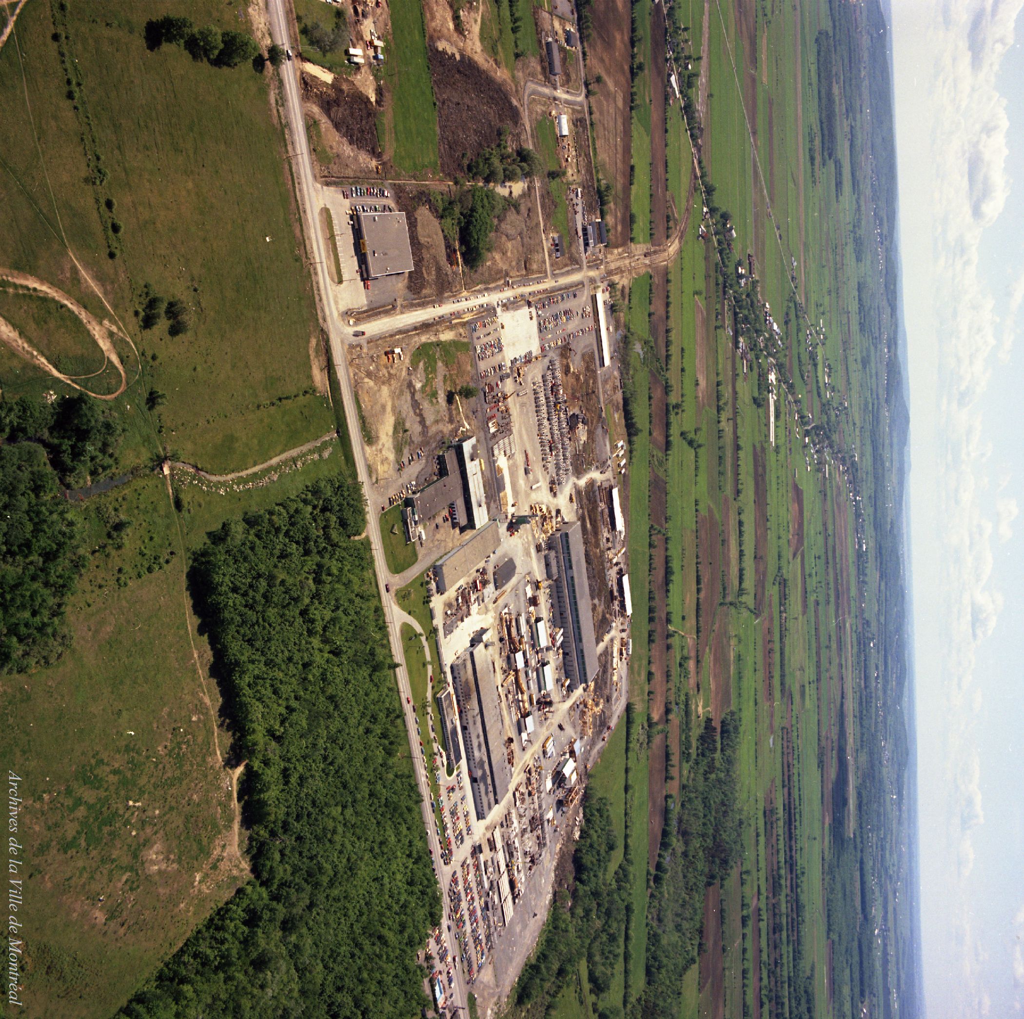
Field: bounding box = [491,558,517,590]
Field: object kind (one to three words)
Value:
building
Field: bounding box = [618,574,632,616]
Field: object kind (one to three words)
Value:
shed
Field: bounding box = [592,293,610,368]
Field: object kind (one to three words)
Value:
shed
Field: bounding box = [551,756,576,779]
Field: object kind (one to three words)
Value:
building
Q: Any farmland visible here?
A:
Yes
